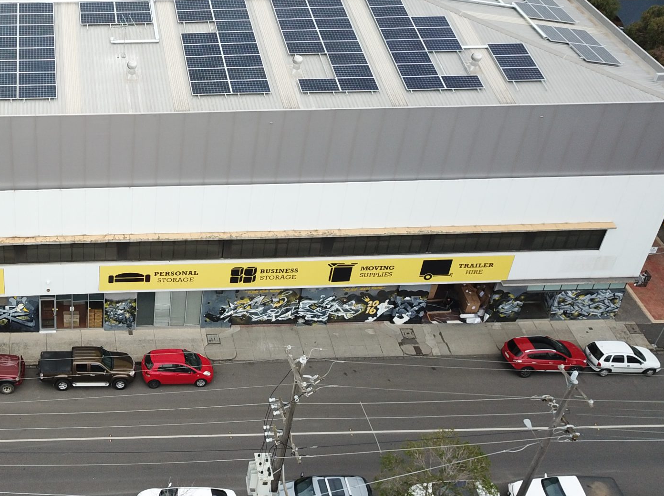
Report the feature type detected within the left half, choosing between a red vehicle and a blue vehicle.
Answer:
red vehicle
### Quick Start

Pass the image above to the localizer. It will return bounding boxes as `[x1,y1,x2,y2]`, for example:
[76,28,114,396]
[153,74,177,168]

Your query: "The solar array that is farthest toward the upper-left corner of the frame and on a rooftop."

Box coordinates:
[0,5,56,104]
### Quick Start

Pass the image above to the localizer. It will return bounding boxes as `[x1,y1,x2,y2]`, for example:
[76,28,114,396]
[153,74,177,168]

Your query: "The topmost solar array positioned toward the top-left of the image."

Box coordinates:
[80,0,151,27]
